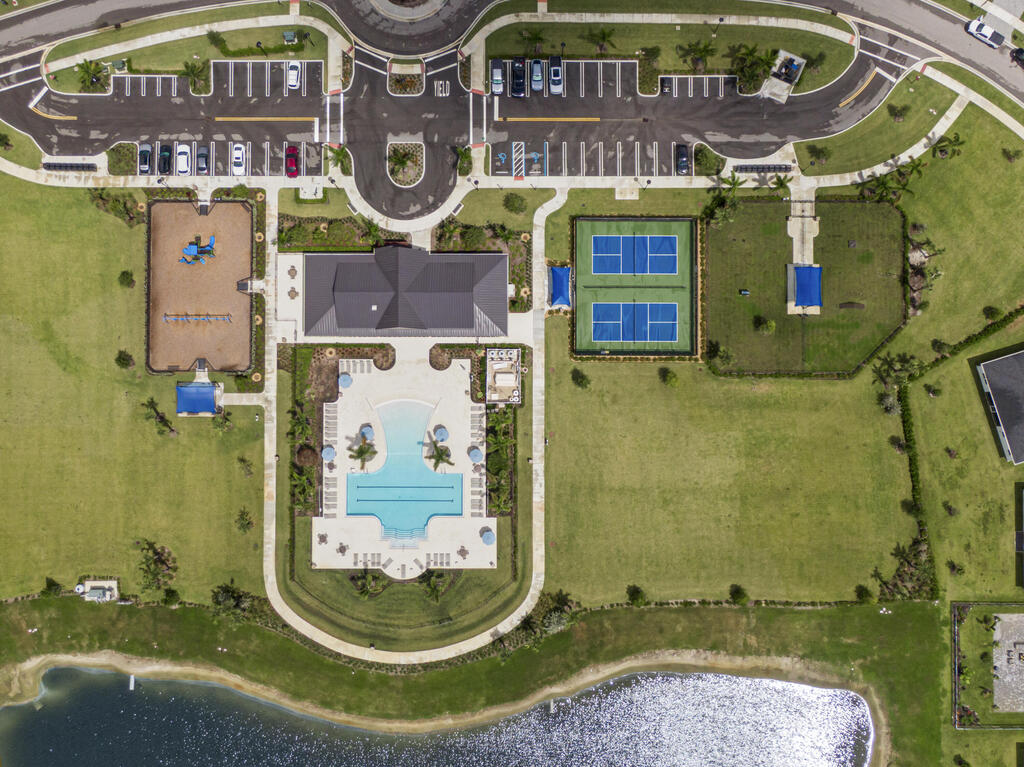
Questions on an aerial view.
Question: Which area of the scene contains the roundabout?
top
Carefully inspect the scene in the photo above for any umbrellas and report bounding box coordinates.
[482,530,496,545]
[434,426,449,441]
[338,373,353,388]
[469,448,483,462]
[360,425,374,440]
[322,447,336,461]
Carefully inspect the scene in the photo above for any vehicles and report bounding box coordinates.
[135,144,153,175]
[660,76,671,94]
[230,144,246,175]
[548,57,564,96]
[284,147,300,178]
[967,18,1007,49]
[174,145,191,176]
[193,145,210,176]
[510,58,526,97]
[530,61,545,92]
[676,145,691,176]
[489,61,505,93]
[156,144,173,176]
[285,60,302,91]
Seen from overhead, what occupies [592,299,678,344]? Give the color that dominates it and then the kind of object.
blue sports court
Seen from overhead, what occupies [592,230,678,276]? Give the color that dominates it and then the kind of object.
blue sports court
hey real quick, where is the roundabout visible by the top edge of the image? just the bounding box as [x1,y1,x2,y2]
[330,0,486,56]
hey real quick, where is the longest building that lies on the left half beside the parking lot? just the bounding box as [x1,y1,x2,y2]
[304,245,509,337]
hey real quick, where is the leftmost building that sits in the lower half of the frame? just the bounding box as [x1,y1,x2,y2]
[84,587,116,601]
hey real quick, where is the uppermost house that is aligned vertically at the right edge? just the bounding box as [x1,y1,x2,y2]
[976,352,1024,465]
